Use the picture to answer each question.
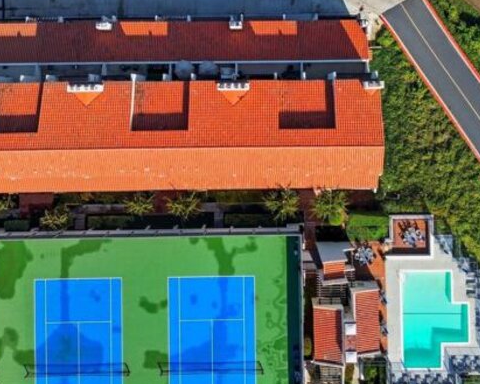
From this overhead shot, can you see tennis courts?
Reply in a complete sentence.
Yes, looking at the shot, I can spot a tennis court.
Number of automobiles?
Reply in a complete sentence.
The photo contains no automobiles.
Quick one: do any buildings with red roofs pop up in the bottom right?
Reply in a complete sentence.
Yes, a building with a red roof shows up in the bottom right.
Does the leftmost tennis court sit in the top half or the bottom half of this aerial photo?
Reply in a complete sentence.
It is in the bottom half that the leftmost tennis court appears.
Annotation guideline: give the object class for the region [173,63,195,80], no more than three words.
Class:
umbrella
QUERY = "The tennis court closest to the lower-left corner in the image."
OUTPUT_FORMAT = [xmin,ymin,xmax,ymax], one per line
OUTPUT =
[0,240,145,384]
